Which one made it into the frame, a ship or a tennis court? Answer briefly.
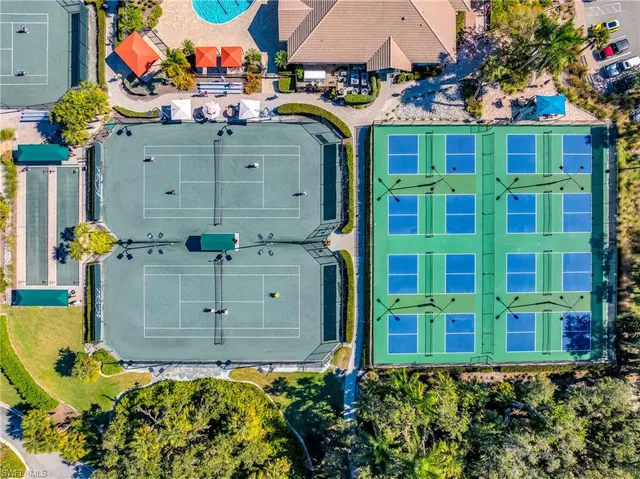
tennis court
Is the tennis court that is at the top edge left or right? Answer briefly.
left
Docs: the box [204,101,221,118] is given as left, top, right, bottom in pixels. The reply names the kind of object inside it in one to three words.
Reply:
umbrella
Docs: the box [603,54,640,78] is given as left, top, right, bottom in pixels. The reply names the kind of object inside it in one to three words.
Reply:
car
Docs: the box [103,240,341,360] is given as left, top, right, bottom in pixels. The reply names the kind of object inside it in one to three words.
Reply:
tennis court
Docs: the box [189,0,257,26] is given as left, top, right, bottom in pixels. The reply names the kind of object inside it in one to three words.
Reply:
swimming pool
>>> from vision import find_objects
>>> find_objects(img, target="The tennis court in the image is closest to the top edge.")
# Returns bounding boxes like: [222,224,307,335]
[0,0,88,108]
